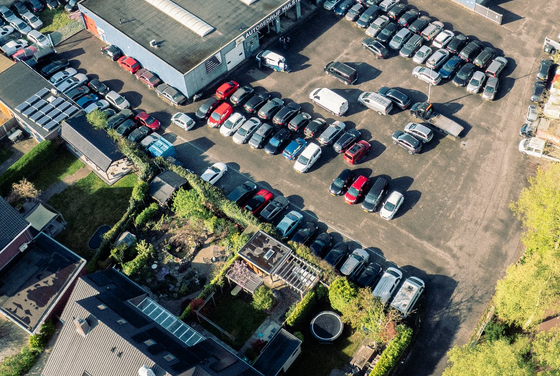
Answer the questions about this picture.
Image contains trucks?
Yes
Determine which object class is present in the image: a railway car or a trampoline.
trampoline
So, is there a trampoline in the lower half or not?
Yes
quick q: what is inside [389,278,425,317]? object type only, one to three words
van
